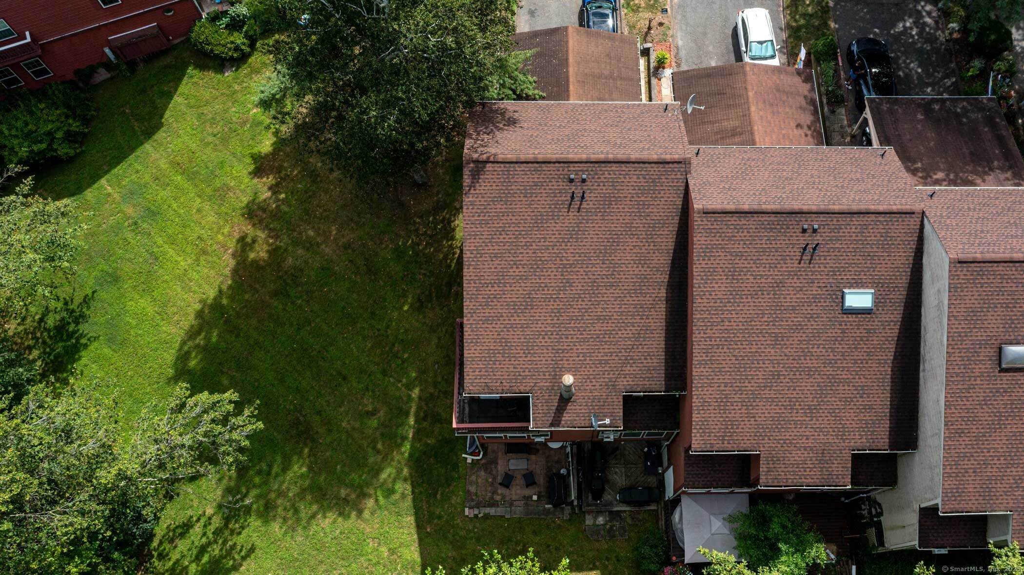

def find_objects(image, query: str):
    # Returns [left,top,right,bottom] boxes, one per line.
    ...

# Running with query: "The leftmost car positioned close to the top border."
[578,0,622,35]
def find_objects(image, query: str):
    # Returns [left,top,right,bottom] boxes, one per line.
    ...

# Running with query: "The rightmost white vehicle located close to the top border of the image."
[734,6,784,66]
